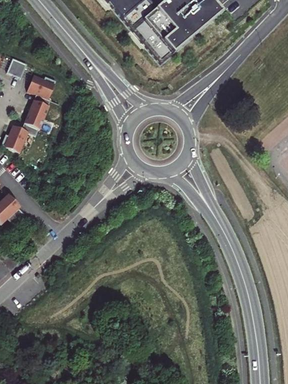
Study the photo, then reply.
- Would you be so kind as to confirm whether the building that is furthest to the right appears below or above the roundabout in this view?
above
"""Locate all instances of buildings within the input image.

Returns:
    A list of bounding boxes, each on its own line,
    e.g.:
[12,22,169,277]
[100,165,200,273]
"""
[6,58,24,80]
[27,75,54,100]
[97,0,224,64]
[24,99,49,128]
[0,193,20,226]
[4,124,28,154]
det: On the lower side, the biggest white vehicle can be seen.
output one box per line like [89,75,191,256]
[12,263,30,278]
